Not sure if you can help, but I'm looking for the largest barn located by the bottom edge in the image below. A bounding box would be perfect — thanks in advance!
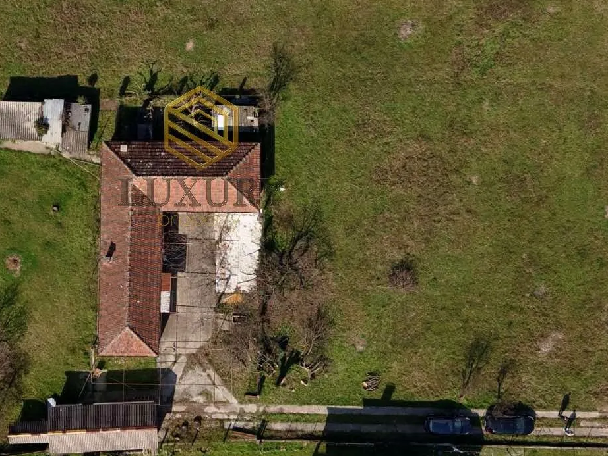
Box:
[48,399,158,455]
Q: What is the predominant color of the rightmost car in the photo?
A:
black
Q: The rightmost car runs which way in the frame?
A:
horizontally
